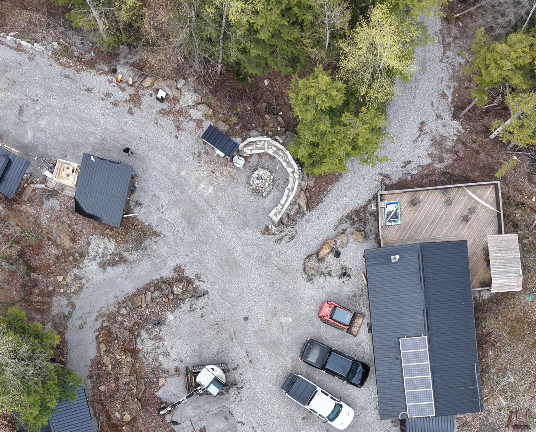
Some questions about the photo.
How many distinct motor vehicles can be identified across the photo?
4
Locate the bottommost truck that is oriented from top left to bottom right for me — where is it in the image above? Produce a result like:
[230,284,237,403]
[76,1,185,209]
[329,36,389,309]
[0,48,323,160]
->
[284,374,356,428]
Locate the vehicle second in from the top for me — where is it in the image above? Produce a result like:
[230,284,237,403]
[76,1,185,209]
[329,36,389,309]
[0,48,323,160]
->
[298,339,373,387]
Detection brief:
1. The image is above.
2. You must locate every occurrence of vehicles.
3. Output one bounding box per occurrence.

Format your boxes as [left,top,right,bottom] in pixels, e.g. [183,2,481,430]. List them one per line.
[284,374,356,428]
[321,303,368,343]
[298,339,373,387]
[160,367,225,413]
